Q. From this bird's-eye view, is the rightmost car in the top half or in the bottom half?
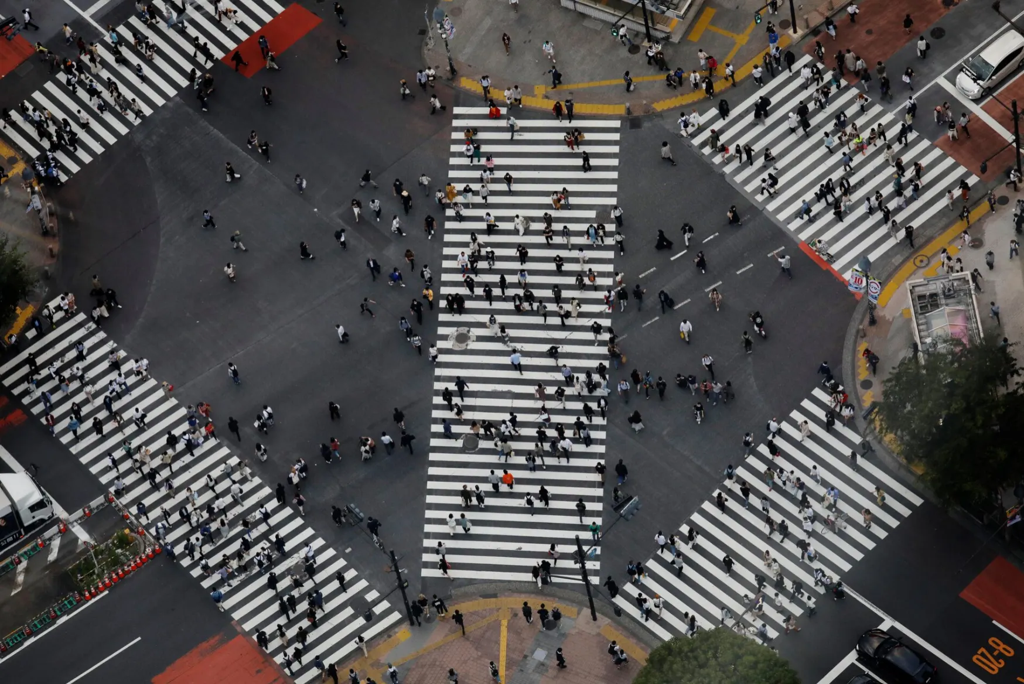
top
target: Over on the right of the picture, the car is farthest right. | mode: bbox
[954,30,1024,99]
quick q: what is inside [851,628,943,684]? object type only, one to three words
car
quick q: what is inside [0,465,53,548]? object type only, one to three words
truck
